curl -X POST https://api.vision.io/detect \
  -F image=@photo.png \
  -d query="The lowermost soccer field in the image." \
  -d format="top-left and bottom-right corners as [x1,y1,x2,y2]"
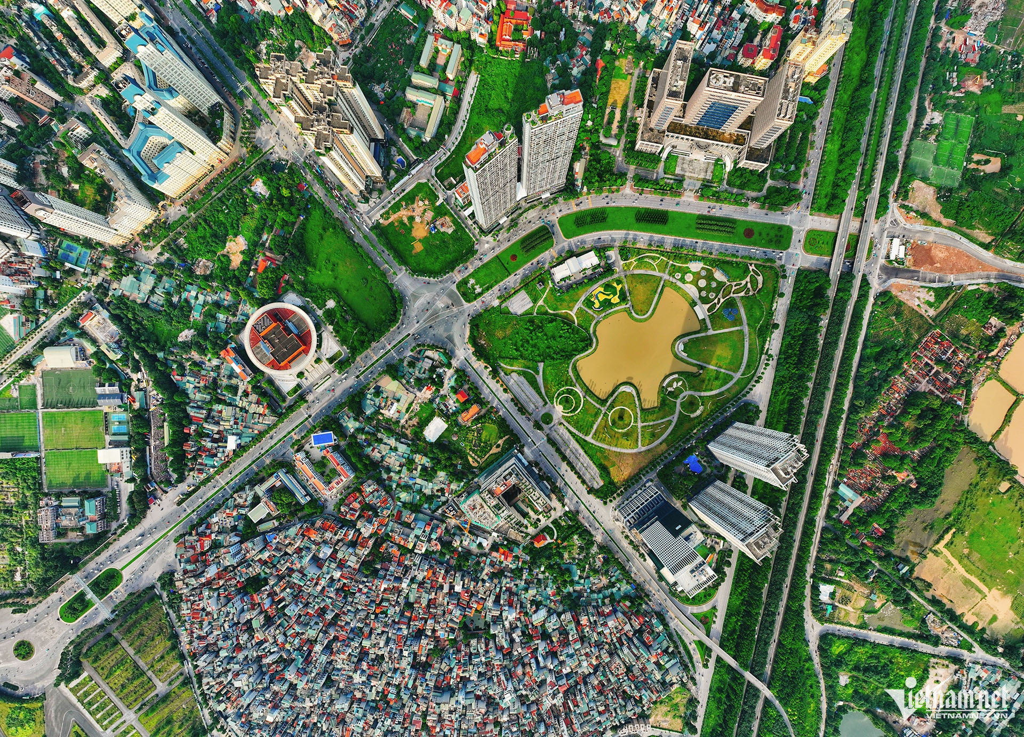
[45,450,107,489]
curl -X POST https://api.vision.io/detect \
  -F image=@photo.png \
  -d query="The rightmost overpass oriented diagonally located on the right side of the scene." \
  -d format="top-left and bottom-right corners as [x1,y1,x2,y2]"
[611,538,796,737]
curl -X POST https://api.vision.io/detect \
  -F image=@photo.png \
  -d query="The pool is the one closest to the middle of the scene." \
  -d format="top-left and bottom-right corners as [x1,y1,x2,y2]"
[683,453,703,474]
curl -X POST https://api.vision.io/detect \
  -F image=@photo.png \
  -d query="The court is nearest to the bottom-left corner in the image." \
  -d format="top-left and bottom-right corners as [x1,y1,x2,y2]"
[107,412,129,435]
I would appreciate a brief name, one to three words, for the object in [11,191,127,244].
building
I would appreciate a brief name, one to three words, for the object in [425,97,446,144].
building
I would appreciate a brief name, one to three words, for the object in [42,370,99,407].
soccer field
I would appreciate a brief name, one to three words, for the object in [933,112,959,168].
soccer field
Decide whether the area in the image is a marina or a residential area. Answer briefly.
residential area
